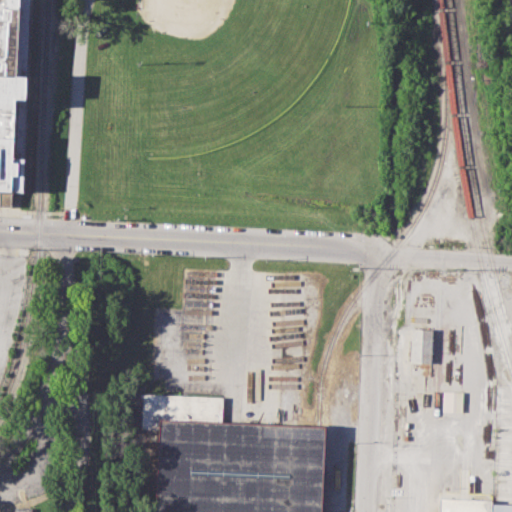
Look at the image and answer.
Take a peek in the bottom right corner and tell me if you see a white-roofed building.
Yes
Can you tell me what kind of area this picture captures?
sports ground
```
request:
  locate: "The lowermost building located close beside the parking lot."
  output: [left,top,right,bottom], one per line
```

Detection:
[156,421,328,512]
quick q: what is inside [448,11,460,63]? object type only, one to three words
rail car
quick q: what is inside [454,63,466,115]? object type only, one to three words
rail car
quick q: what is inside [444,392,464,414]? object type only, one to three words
building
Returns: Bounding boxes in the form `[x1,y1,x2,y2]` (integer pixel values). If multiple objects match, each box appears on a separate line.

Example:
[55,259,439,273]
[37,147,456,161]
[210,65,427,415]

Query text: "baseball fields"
[78,0,385,234]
